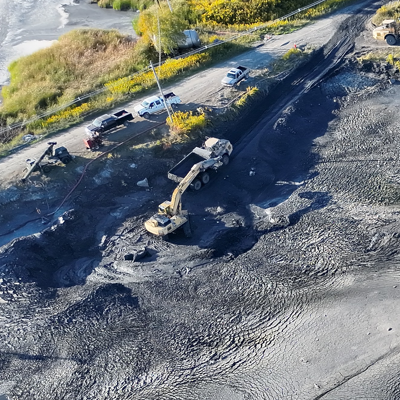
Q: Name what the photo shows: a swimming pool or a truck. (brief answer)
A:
truck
